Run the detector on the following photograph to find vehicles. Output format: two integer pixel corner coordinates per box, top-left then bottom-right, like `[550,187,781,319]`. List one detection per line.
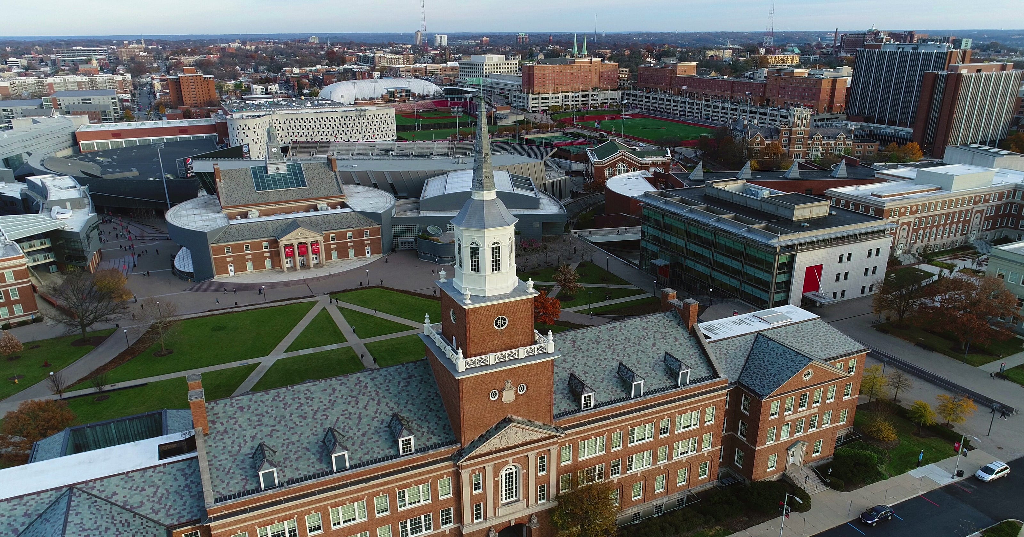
[977,458,1012,481]
[861,506,897,527]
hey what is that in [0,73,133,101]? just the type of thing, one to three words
building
